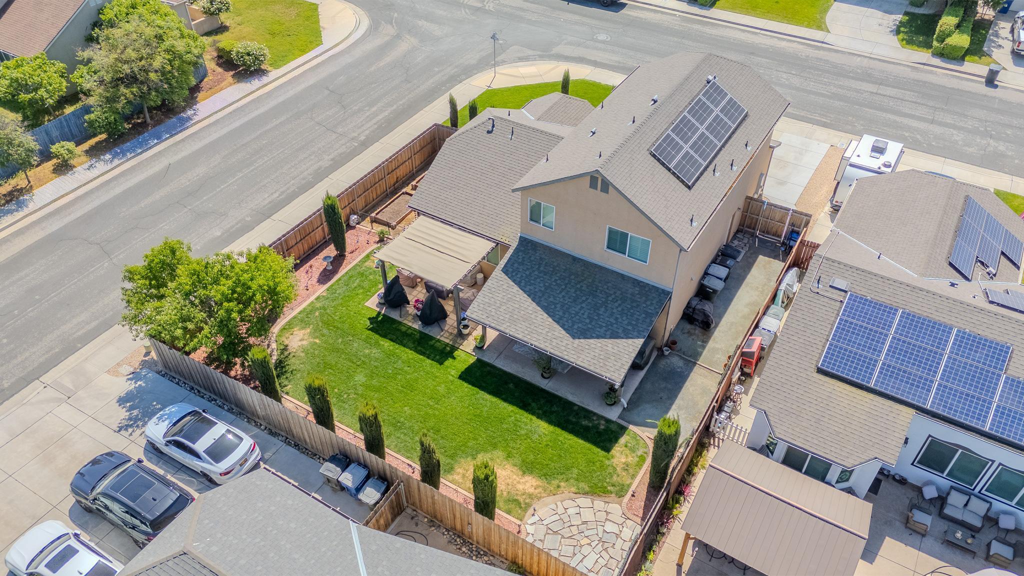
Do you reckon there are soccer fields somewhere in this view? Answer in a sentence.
No, the photo shows no soccer field.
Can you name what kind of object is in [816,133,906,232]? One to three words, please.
vehicle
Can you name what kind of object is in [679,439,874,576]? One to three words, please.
gazebo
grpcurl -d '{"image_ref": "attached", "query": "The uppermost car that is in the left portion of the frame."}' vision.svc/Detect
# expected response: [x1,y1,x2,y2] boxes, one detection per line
[139,401,255,485]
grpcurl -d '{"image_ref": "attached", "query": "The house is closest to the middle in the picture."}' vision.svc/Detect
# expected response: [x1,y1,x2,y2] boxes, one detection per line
[403,48,791,423]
